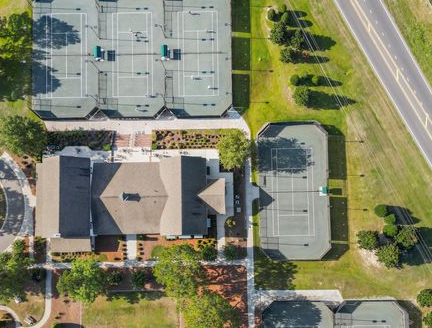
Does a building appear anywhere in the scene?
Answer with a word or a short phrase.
Yes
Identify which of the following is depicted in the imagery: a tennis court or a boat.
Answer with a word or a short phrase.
tennis court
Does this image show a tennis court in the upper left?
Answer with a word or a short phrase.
Yes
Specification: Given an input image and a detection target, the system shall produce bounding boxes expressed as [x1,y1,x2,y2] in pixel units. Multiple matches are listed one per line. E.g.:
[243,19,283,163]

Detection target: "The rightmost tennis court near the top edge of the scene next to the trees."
[165,0,231,116]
